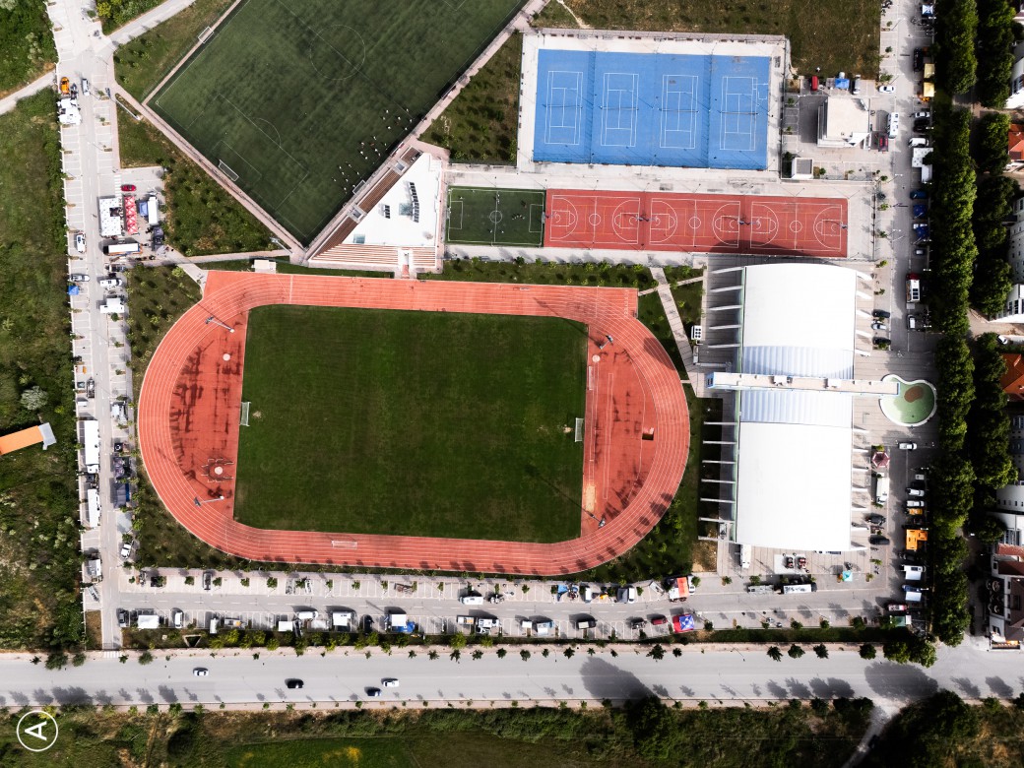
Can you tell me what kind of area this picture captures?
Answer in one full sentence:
What you see here is a sports ground.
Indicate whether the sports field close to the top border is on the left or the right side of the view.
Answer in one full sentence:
The sports field close to the top border is on the left side of the image.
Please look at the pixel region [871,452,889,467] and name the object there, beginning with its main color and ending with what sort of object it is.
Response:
red gazebo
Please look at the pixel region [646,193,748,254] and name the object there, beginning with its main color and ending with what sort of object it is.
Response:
red basketball court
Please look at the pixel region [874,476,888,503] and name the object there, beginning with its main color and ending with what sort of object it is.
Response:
white vehicle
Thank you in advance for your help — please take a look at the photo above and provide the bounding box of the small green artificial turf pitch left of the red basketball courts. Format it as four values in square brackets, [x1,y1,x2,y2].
[446,188,545,246]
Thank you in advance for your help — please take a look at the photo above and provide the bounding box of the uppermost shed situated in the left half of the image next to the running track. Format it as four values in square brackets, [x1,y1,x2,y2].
[254,259,278,275]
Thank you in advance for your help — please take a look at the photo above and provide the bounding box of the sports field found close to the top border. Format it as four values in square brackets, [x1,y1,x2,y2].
[143,0,525,245]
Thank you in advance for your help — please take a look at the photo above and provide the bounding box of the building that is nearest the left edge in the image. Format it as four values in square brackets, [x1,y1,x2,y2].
[0,423,58,460]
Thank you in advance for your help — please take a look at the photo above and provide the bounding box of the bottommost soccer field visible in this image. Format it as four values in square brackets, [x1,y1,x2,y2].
[233,304,587,543]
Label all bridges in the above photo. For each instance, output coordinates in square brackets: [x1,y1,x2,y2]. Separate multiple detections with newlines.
[705,372,901,397]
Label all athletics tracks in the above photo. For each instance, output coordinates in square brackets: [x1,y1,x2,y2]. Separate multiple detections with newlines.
[136,269,692,577]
